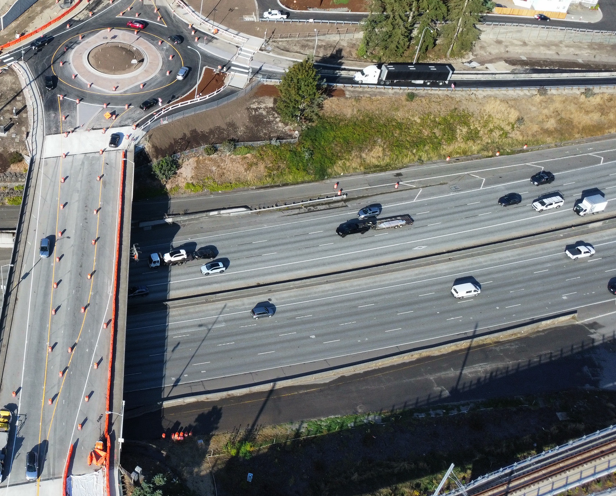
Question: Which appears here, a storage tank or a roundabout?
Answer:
roundabout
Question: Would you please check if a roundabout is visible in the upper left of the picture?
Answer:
Yes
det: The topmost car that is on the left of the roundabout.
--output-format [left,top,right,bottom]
[32,35,50,48]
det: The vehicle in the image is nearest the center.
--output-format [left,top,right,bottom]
[338,222,370,237]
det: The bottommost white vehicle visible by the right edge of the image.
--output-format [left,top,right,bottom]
[562,246,596,261]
